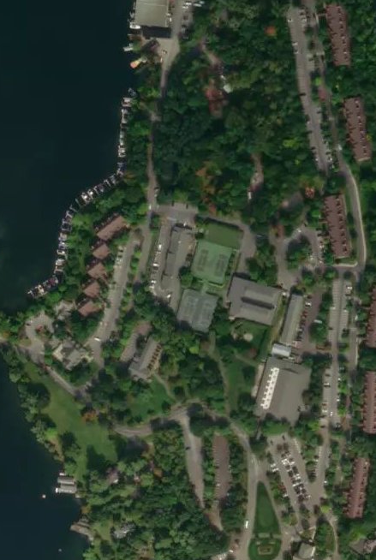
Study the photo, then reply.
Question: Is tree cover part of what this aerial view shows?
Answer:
Yes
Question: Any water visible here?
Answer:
Yes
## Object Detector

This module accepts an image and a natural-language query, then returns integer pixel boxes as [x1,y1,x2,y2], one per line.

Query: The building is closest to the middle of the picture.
[163,226,196,284]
